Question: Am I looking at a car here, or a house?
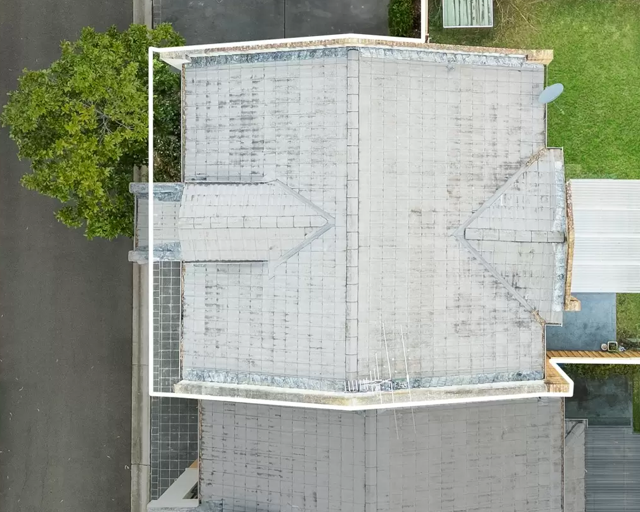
house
